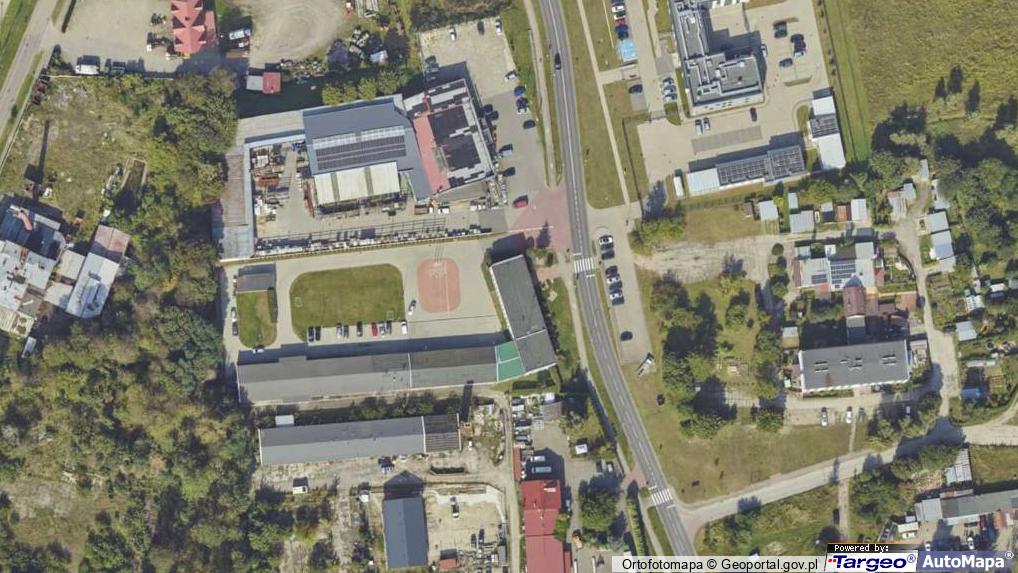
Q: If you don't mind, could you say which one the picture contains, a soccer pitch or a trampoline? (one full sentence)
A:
I can see a soccer pitch in this picture.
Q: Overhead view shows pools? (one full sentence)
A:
No, there's no pool here.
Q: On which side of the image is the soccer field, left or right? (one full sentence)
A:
The soccer field sits on the left side.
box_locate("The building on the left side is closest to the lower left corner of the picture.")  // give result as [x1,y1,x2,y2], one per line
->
[0,306,35,338]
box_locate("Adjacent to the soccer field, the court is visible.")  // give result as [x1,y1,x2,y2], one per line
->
[418,256,461,313]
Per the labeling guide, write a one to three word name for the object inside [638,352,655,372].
vehicle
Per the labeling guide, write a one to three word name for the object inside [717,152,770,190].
shed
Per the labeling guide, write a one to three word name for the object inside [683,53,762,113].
building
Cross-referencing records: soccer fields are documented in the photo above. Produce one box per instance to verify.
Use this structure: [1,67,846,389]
[291,264,405,341]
